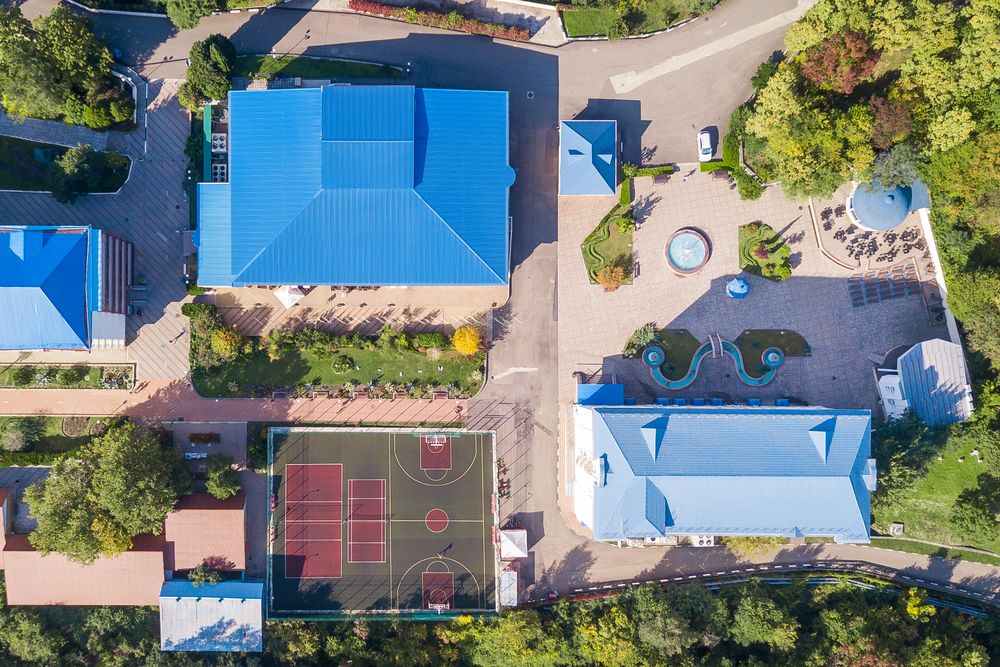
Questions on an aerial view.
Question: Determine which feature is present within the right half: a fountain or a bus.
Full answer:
What appears within the right half is a fountain.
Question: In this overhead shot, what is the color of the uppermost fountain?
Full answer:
In this view, the uppermost fountain is white.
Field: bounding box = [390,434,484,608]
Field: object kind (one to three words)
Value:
basketball court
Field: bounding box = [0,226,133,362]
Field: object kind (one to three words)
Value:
building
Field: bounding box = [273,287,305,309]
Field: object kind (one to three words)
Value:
umbrella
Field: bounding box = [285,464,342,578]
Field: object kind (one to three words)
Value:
sports court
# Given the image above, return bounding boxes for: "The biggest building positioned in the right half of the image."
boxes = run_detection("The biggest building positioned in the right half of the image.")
[573,370,875,545]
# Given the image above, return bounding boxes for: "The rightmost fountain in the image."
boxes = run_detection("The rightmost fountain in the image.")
[762,347,785,369]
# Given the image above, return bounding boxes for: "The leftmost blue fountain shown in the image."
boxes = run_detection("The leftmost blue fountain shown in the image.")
[642,346,665,368]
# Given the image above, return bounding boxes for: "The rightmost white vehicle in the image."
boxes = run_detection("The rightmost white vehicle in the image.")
[698,131,714,160]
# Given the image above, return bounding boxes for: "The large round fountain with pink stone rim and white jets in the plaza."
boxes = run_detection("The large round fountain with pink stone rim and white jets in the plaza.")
[664,226,714,275]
